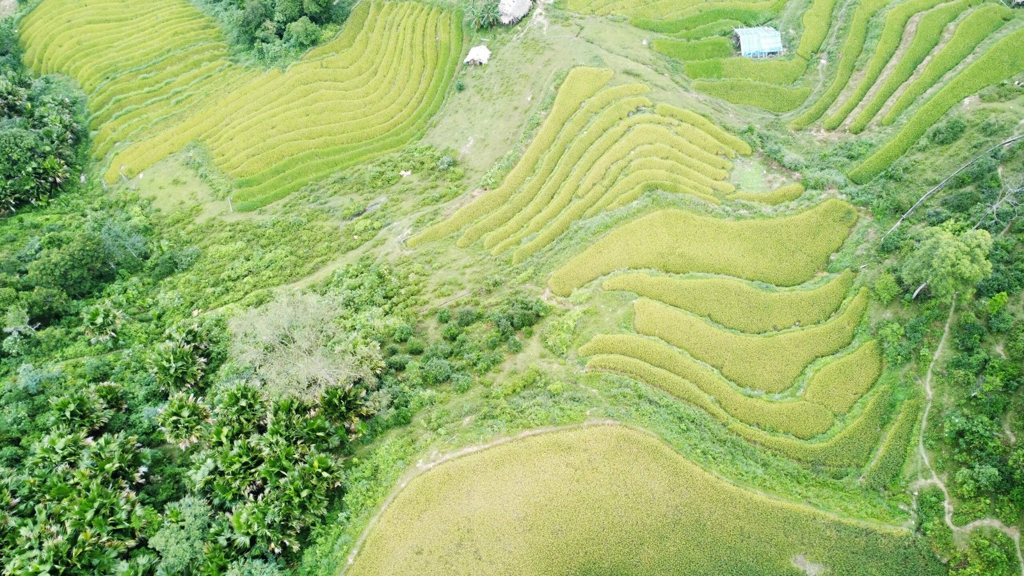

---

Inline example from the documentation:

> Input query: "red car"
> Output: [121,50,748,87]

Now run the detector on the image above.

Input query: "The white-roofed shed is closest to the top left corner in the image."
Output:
[461,47,495,71]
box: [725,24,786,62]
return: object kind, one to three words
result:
shed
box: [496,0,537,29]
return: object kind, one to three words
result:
building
